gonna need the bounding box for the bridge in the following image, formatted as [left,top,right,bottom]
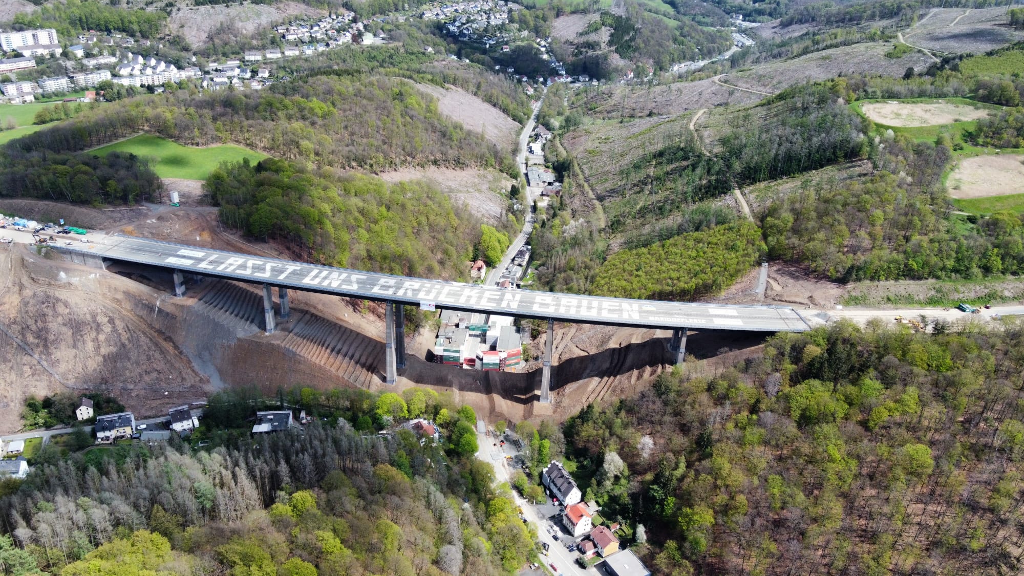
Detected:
[53,233,816,409]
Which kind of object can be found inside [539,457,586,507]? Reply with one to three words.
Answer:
house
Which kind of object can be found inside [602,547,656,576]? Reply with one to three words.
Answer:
building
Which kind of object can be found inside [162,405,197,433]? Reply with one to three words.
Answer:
house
